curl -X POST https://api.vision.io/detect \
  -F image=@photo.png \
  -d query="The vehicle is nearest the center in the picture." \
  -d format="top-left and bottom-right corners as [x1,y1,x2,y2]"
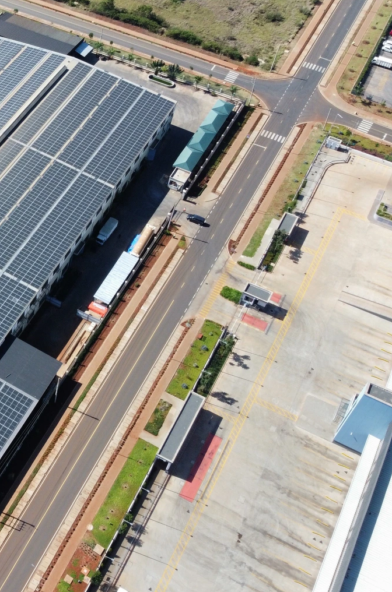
[183,211,210,227]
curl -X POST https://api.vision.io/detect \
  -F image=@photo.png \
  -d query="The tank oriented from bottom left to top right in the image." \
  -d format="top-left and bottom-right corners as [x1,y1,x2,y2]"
[129,224,157,263]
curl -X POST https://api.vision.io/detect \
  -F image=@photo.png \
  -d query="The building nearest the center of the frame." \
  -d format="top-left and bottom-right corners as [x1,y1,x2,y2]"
[240,283,273,312]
